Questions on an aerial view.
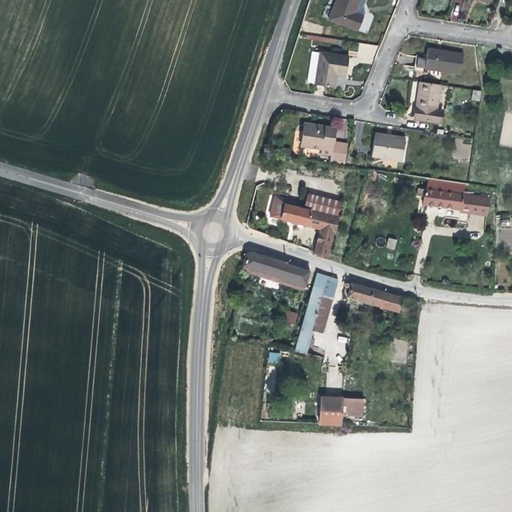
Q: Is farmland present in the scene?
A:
Yes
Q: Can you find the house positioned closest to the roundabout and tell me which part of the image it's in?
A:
center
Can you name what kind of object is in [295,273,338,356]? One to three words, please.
shed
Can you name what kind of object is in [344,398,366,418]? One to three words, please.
building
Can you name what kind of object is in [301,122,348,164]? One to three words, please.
house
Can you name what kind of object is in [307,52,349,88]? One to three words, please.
house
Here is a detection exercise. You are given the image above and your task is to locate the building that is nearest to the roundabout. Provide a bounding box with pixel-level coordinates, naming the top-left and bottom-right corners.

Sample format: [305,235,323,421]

[242,251,310,290]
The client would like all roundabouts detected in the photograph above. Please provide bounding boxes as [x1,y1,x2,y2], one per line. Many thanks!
[162,190,247,282]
